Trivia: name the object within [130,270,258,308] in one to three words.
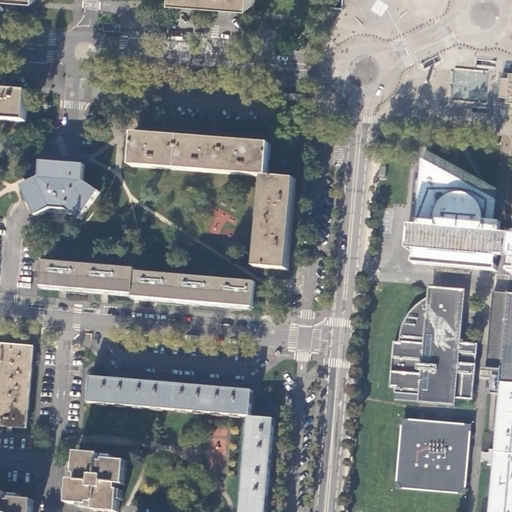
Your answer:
building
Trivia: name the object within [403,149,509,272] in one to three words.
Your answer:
building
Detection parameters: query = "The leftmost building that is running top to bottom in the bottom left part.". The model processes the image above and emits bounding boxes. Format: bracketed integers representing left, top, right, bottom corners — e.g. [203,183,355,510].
[0,342,37,430]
